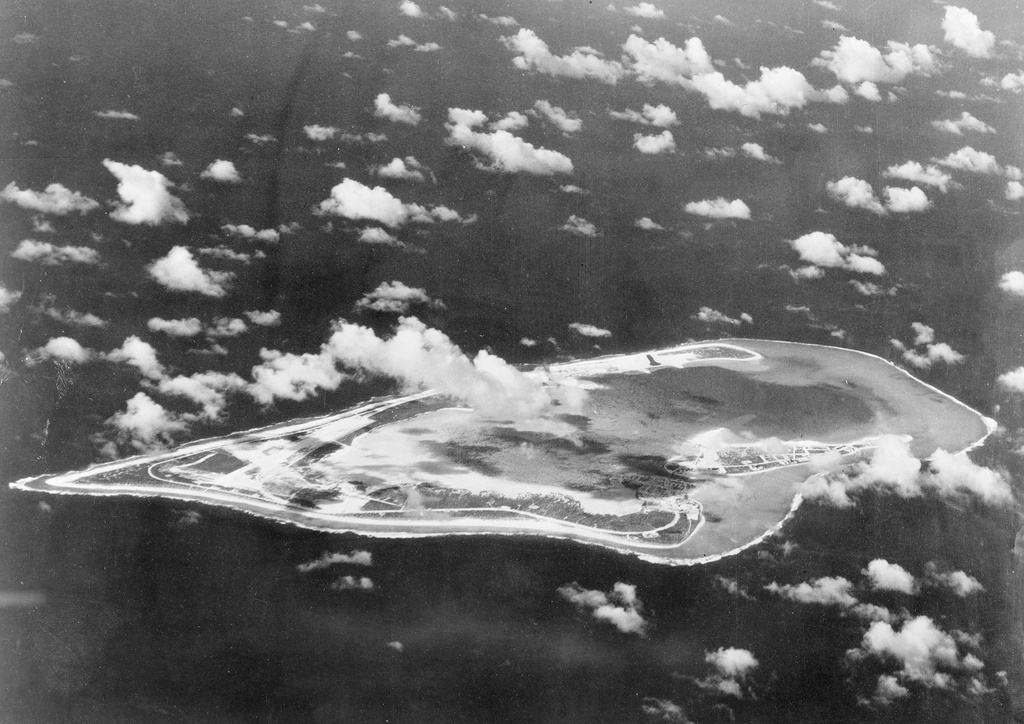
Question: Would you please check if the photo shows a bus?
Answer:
No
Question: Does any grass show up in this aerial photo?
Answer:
No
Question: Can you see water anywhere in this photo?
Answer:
Yes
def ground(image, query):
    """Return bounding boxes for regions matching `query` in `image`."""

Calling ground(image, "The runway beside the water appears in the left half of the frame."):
[217,417,375,487]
